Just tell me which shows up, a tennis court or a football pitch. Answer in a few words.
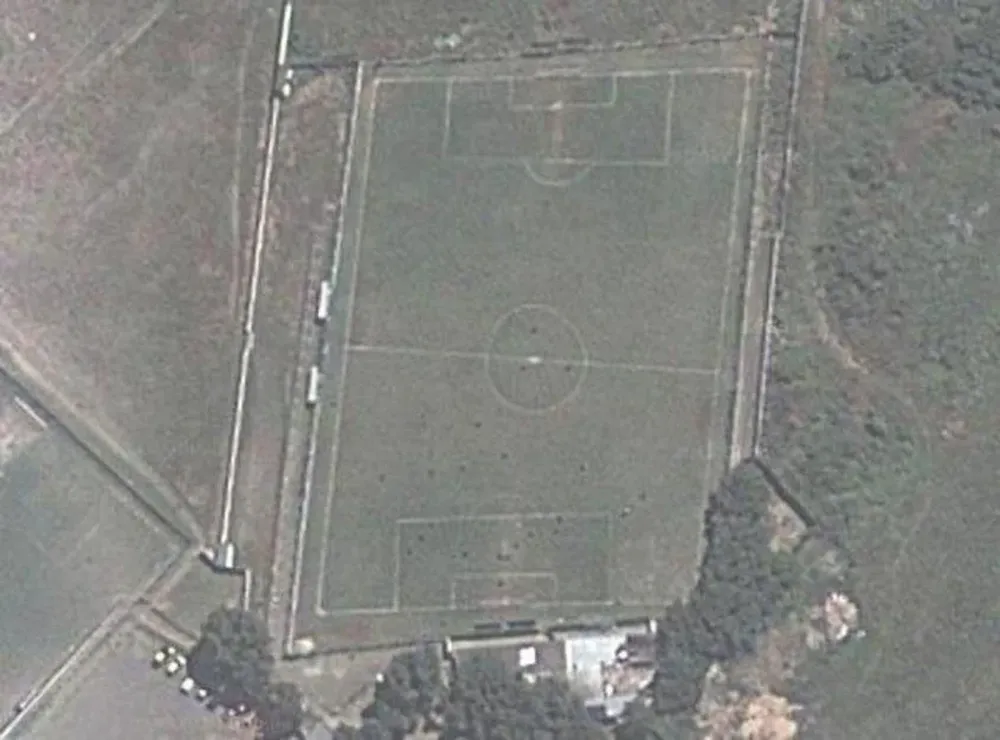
football pitch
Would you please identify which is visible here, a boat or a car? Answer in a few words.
car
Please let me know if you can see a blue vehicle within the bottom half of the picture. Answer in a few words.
No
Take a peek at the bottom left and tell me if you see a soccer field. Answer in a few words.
Yes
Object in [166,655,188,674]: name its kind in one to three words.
car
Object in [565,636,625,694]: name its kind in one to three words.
building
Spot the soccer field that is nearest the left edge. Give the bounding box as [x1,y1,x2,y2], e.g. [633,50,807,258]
[0,432,185,719]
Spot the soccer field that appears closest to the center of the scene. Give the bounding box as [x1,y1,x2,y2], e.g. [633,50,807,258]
[292,43,773,650]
